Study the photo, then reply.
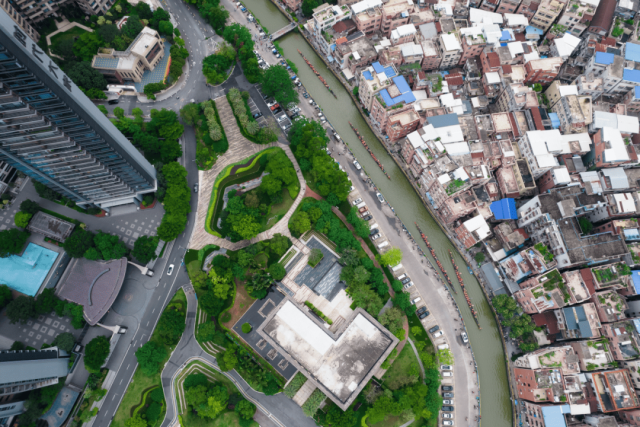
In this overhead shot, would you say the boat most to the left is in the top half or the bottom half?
top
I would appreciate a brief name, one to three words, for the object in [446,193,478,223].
house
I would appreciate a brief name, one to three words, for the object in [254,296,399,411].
building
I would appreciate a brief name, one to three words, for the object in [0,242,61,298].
swimming pool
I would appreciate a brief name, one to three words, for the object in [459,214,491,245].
house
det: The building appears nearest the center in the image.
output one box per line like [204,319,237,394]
[314,264,342,298]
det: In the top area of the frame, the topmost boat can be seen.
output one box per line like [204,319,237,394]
[296,47,337,98]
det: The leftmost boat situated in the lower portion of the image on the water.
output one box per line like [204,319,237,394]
[414,219,458,295]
